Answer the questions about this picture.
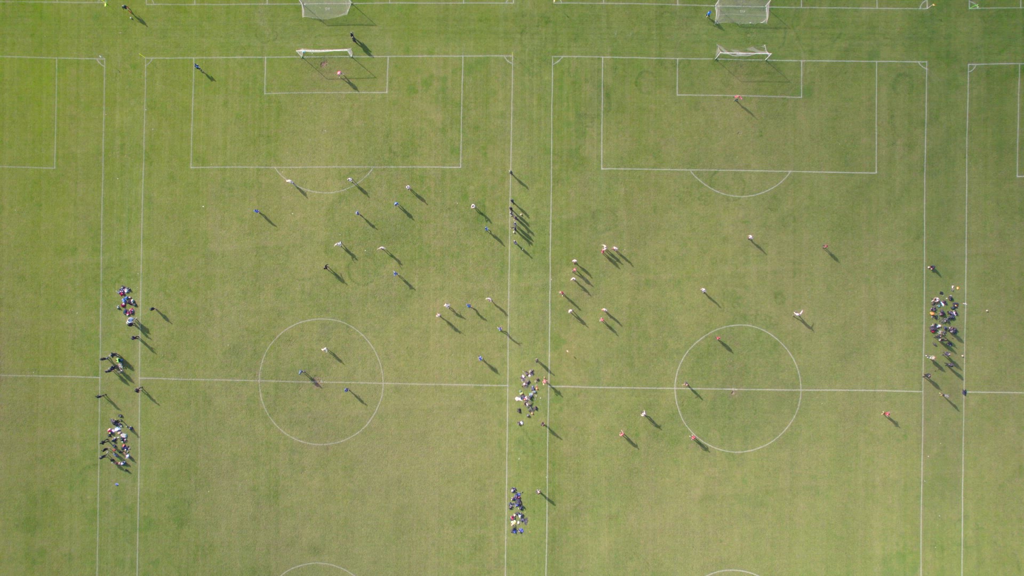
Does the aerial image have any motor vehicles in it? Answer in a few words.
No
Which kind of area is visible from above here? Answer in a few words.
sports ground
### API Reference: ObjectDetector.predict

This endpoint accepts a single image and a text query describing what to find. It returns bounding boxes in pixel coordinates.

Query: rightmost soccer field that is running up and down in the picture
[962,63,1024,576]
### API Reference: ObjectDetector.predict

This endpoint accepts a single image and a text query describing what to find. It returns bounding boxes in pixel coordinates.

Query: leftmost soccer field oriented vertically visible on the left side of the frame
[0,56,105,576]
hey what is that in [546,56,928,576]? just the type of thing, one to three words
soccer field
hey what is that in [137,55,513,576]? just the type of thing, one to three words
soccer field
